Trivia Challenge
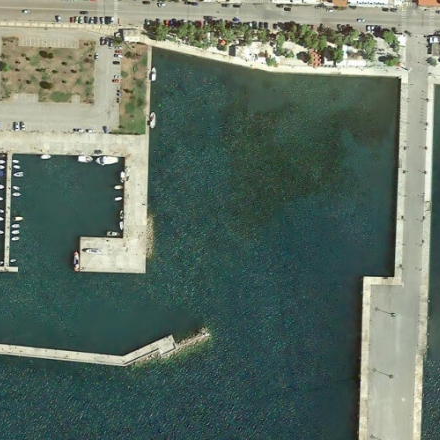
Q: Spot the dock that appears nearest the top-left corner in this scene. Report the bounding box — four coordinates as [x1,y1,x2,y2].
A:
[0,154,18,272]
